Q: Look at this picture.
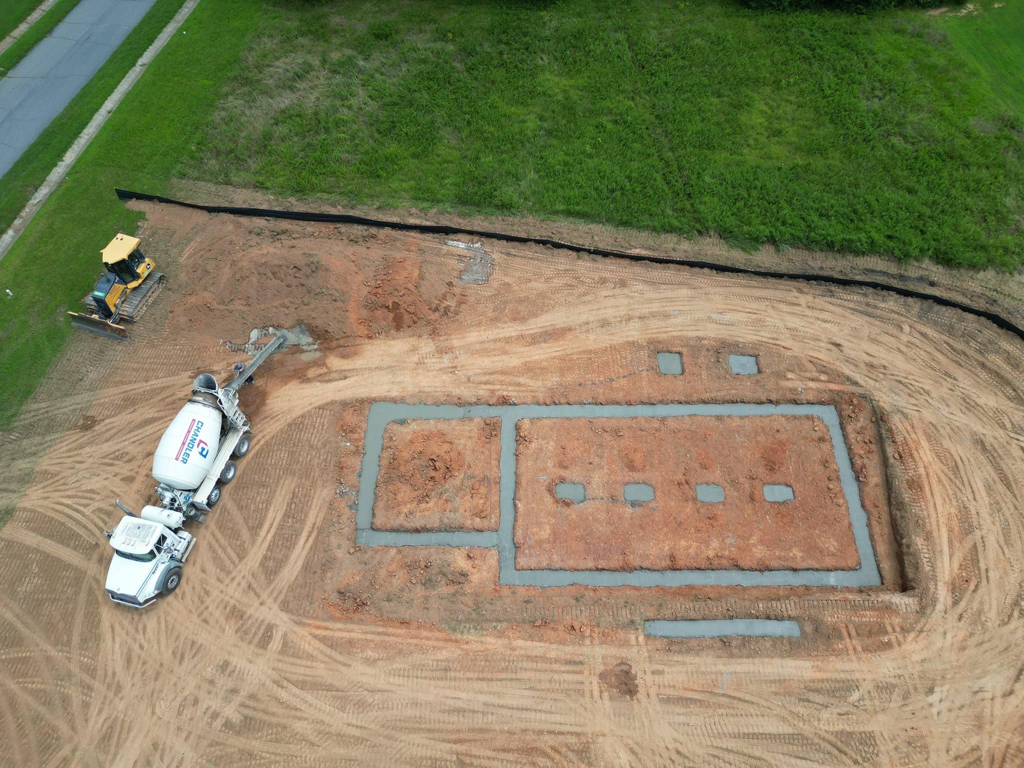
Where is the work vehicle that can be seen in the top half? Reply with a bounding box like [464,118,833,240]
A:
[68,232,170,342]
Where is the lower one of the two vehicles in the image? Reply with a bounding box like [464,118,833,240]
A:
[110,337,282,608]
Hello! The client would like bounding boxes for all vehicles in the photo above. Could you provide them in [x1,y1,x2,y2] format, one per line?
[110,337,282,608]
[68,232,170,342]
